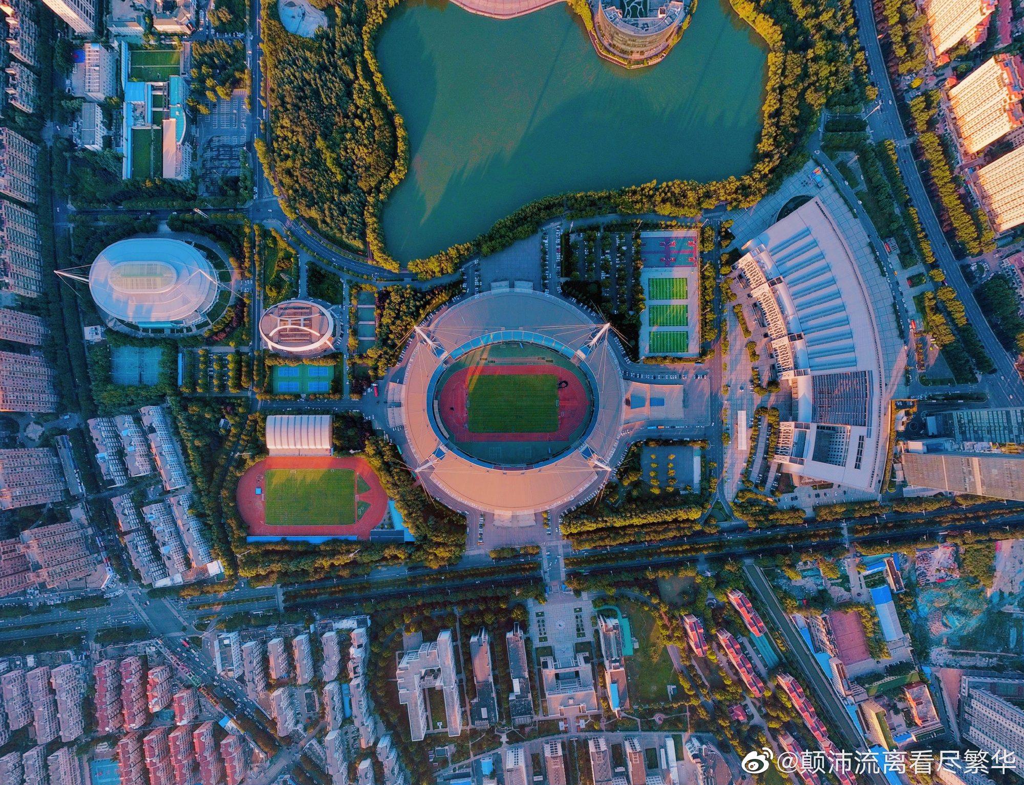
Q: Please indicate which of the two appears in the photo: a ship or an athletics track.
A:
athletics track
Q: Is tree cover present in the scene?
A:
Yes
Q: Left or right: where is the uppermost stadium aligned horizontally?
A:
left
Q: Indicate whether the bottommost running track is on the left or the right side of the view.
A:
left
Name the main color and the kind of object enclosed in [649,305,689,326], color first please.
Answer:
green soccer field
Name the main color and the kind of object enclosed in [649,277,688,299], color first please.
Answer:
green soccer field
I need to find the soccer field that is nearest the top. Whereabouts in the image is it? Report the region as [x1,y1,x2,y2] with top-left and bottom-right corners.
[131,48,181,81]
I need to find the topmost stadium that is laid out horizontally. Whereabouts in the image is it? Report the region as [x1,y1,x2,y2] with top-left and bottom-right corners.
[55,238,243,329]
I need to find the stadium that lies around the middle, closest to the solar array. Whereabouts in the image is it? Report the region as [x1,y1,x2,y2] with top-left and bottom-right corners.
[387,280,633,527]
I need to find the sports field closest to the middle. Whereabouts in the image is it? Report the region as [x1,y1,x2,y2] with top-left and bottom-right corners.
[468,374,558,433]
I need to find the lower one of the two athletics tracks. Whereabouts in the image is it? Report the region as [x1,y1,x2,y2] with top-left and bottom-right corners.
[236,457,387,541]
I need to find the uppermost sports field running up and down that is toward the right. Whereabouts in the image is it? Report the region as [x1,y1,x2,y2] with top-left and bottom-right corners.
[640,230,700,357]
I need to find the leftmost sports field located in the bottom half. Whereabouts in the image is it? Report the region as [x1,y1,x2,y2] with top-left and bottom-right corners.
[265,469,355,525]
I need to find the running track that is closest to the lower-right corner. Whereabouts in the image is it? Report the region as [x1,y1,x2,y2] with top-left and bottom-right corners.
[435,342,592,466]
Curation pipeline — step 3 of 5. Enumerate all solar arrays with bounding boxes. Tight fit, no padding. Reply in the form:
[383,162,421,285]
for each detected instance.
[811,371,865,426]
